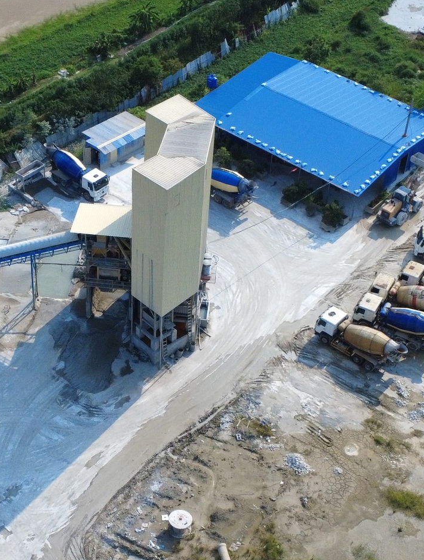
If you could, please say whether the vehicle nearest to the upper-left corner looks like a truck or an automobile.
truck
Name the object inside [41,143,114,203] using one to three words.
truck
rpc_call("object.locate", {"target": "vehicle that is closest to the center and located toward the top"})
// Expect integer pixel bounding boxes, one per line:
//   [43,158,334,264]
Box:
[210,171,260,208]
